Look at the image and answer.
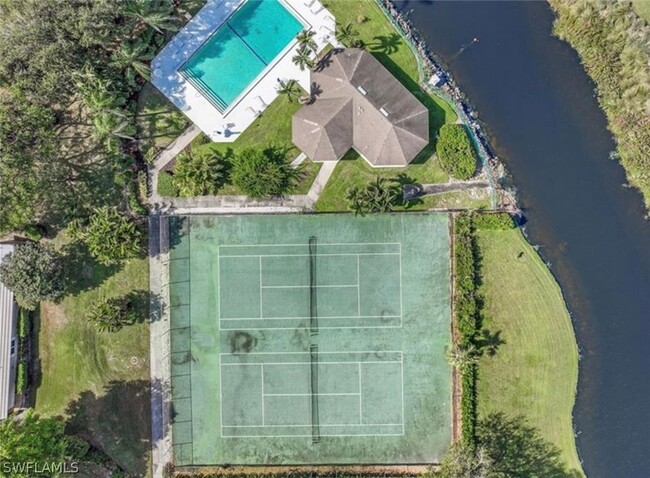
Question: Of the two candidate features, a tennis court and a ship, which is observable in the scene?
tennis court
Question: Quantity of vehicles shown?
0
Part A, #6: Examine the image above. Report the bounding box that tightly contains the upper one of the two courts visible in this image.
[219,243,402,330]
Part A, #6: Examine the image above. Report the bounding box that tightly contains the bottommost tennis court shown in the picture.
[221,352,404,438]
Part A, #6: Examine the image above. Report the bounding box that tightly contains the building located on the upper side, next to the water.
[292,50,429,167]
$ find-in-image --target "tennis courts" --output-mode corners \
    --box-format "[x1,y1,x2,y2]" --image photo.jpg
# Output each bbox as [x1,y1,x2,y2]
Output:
[219,243,402,330]
[221,352,404,438]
